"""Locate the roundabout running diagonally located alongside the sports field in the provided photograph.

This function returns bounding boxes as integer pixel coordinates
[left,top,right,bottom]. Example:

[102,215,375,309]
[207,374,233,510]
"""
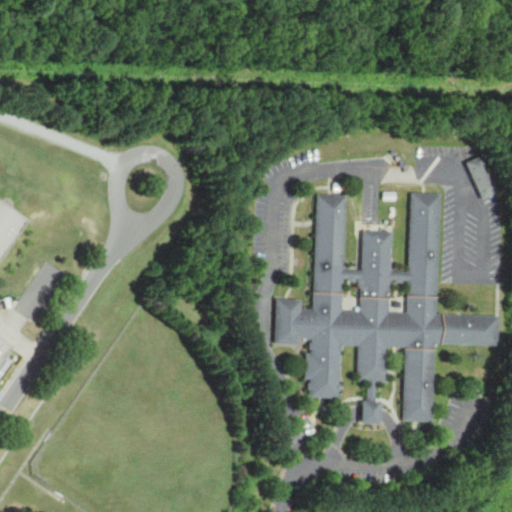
[0,146,185,426]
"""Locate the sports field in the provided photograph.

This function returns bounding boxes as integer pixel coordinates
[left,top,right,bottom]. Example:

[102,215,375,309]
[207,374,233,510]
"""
[30,308,233,512]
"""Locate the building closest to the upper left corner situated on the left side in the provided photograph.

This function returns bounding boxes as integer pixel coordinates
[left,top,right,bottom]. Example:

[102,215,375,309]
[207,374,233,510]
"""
[0,198,28,262]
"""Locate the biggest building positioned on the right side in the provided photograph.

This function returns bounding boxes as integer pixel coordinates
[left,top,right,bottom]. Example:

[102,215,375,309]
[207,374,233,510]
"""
[275,194,500,424]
